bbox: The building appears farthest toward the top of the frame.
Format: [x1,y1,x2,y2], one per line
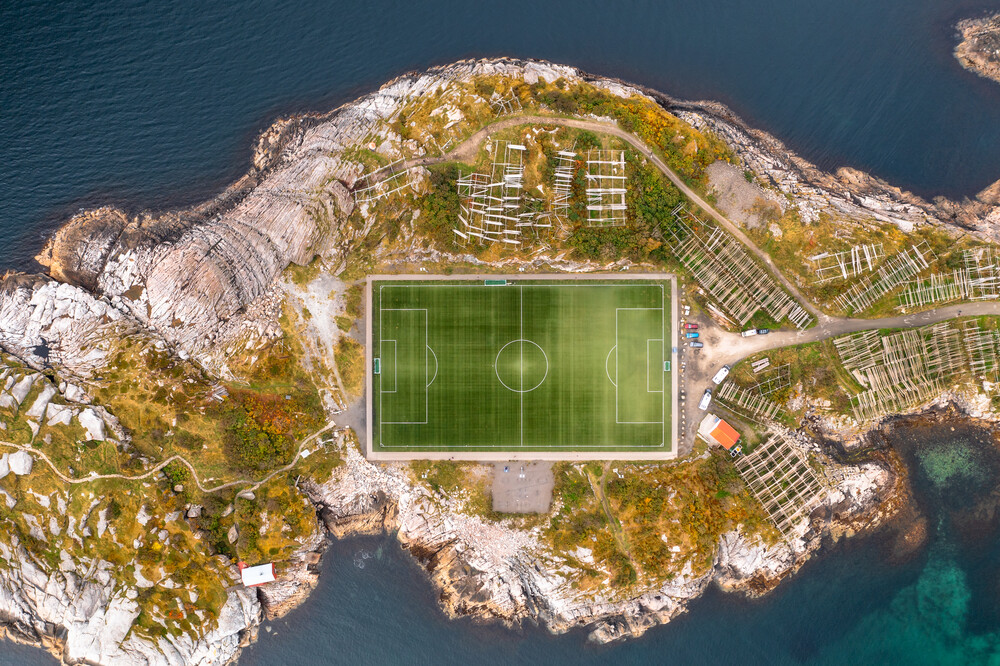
[708,419,740,450]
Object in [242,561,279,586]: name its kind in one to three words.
house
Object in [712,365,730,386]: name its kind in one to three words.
vehicle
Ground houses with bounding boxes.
[708,419,740,450]
[242,561,279,586]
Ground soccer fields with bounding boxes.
[368,275,677,460]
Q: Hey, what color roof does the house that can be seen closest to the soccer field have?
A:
orange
